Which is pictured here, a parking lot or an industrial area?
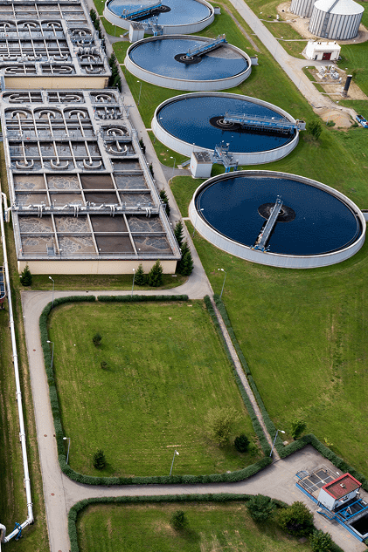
industrial area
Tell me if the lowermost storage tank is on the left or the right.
right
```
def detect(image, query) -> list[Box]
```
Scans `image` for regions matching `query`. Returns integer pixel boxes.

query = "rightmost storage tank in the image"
[306,0,368,40]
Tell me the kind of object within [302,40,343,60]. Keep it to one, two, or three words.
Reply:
house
